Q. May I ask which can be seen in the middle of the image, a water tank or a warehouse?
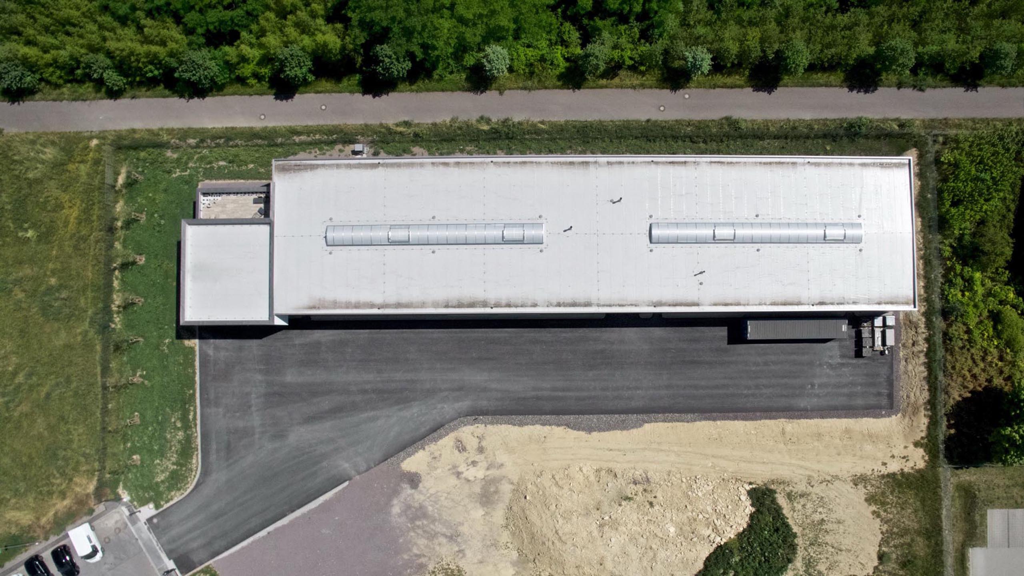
warehouse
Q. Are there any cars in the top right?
No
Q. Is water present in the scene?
No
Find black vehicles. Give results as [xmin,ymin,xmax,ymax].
[53,542,84,576]
[26,553,54,576]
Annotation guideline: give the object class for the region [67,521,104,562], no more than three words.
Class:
van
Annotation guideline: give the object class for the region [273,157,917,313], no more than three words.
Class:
warehouse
